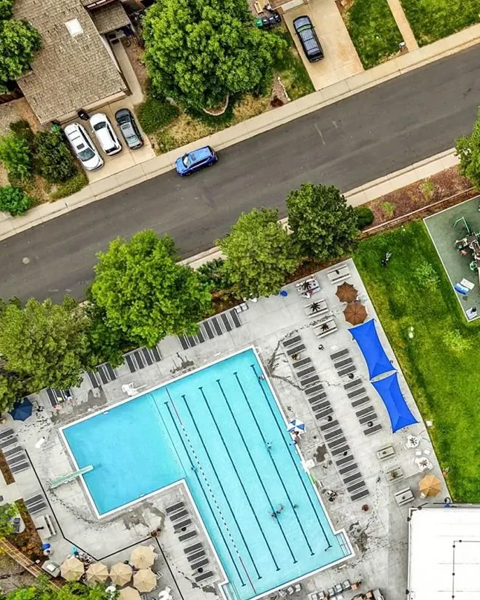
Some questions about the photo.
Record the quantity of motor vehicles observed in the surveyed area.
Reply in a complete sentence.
The count of motor vehicles comes to 5.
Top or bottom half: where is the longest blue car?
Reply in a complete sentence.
You can find the longest blue car in the top half.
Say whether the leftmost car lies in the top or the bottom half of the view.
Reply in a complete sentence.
The leftmost car is in the top half of the image.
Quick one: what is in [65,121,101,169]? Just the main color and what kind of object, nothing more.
white car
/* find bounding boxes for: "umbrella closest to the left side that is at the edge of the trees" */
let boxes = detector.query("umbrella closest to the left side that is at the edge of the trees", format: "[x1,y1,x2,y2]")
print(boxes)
[10,398,36,420]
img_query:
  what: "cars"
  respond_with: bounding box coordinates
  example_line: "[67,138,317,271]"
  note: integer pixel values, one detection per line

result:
[116,108,144,151]
[65,121,101,169]
[91,113,121,154]
[175,146,220,174]
[294,14,323,63]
